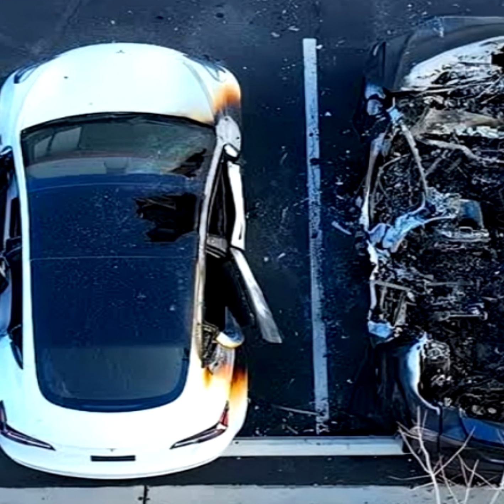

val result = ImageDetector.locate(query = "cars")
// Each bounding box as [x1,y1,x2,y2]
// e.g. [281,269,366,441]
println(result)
[0,42,285,485]
[360,12,504,474]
